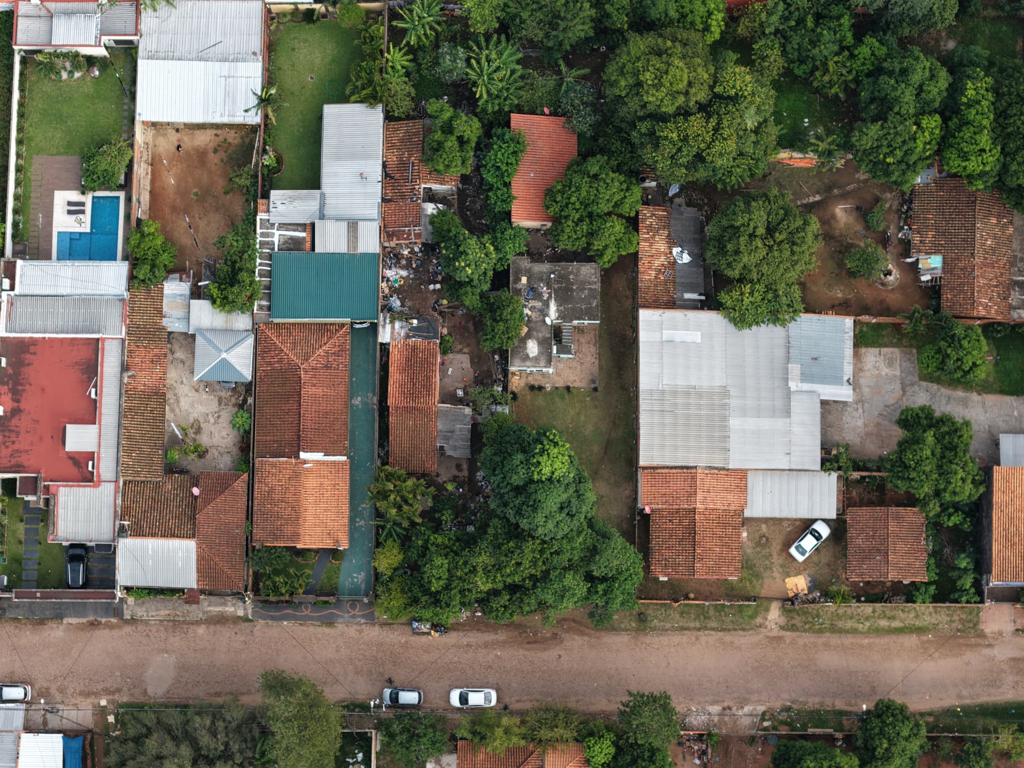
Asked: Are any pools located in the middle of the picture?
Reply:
No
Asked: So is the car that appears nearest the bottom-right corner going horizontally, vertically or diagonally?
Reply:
diagonally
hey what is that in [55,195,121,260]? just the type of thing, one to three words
swimming pool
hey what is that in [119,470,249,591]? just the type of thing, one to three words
house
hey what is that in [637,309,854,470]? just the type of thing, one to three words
shed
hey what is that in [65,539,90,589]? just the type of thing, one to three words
car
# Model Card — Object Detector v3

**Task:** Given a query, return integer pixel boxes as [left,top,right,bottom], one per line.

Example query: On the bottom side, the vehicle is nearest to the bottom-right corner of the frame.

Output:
[790,519,829,563]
